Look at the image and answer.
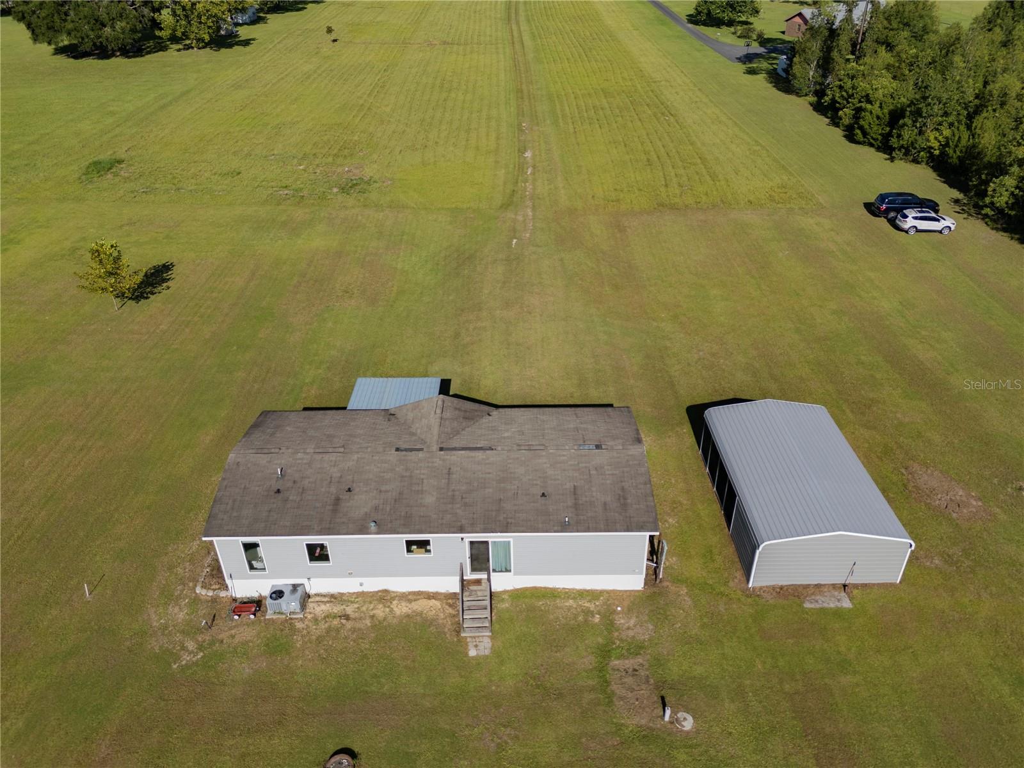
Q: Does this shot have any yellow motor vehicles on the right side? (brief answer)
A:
No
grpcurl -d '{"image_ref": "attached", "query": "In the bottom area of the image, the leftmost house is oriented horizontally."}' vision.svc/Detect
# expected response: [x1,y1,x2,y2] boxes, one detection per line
[202,394,661,596]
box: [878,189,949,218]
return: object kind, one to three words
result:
car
